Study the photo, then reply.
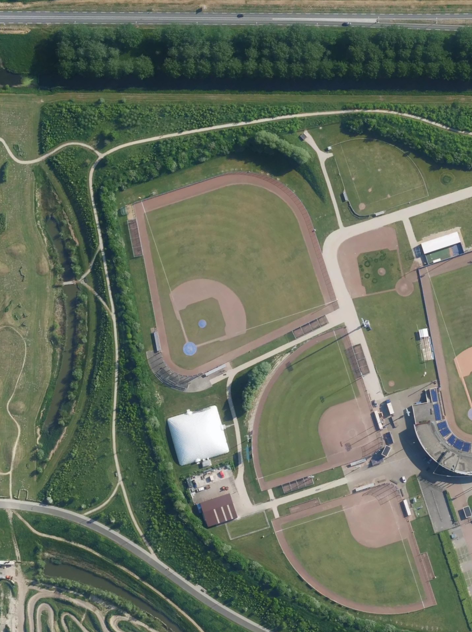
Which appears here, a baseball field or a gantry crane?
baseball field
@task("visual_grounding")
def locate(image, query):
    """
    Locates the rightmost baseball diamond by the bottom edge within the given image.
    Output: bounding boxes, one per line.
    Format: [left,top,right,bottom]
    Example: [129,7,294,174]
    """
[272,483,436,615]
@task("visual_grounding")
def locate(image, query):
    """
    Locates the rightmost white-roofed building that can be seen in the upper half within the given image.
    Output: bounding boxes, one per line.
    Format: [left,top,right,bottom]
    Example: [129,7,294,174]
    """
[421,232,463,265]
